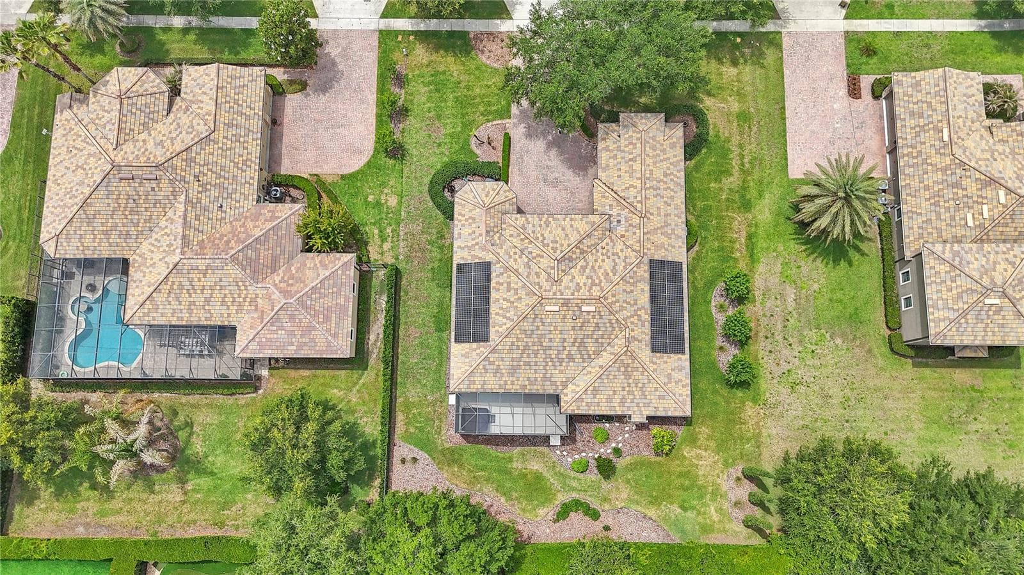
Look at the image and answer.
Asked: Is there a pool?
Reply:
Yes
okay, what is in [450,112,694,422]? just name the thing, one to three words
house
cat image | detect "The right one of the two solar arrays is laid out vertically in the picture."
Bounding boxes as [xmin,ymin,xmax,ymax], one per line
[652,261,685,353]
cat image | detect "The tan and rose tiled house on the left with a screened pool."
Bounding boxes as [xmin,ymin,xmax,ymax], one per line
[40,62,356,358]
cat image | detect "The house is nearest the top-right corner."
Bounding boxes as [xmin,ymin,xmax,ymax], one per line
[879,65,1024,358]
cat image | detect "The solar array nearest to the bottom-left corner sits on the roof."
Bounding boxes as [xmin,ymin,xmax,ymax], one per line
[454,259,489,343]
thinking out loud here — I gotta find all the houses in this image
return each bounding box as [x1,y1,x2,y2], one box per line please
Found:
[450,112,694,422]
[879,65,1024,358]
[40,62,356,358]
